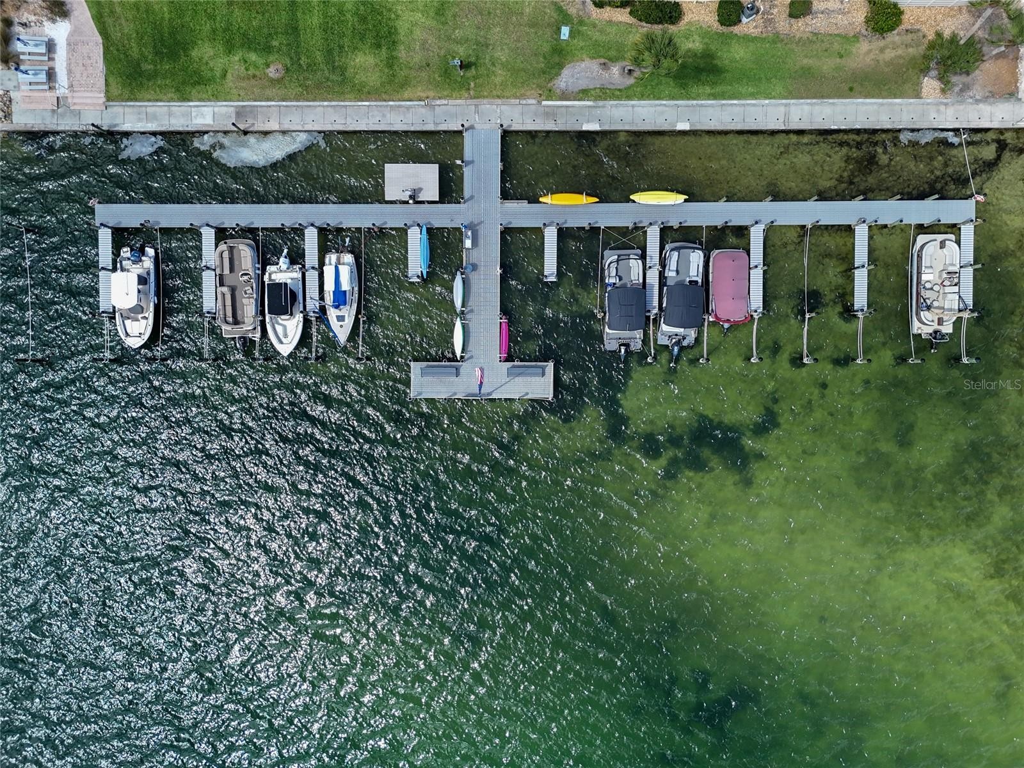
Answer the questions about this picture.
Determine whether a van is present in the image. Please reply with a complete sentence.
No, there appears to be no van in this shot.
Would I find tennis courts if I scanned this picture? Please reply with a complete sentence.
No, the frame has no tennis court in it.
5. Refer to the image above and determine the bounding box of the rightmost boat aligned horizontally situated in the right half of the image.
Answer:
[630,190,689,204]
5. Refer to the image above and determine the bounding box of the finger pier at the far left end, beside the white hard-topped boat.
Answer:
[92,222,122,315]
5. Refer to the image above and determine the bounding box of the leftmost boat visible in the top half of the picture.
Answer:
[111,246,159,349]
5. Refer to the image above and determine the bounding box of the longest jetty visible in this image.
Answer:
[96,123,987,402]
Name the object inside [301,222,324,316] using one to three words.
pier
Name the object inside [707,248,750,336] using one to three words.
boat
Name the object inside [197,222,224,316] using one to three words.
pier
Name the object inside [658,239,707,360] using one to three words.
boat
